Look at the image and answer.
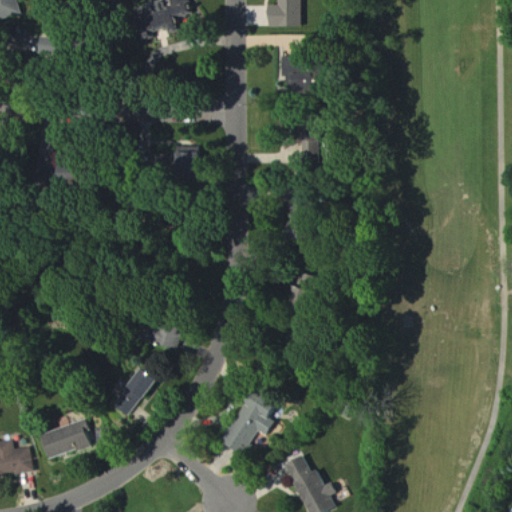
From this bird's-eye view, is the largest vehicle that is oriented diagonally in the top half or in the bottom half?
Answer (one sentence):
You can find the largest vehicle that is oriented diagonally in the bottom half.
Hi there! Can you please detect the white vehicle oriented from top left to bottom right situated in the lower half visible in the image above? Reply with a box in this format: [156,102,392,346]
[177,461,198,483]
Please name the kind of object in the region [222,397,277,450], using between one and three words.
house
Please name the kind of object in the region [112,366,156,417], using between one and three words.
house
